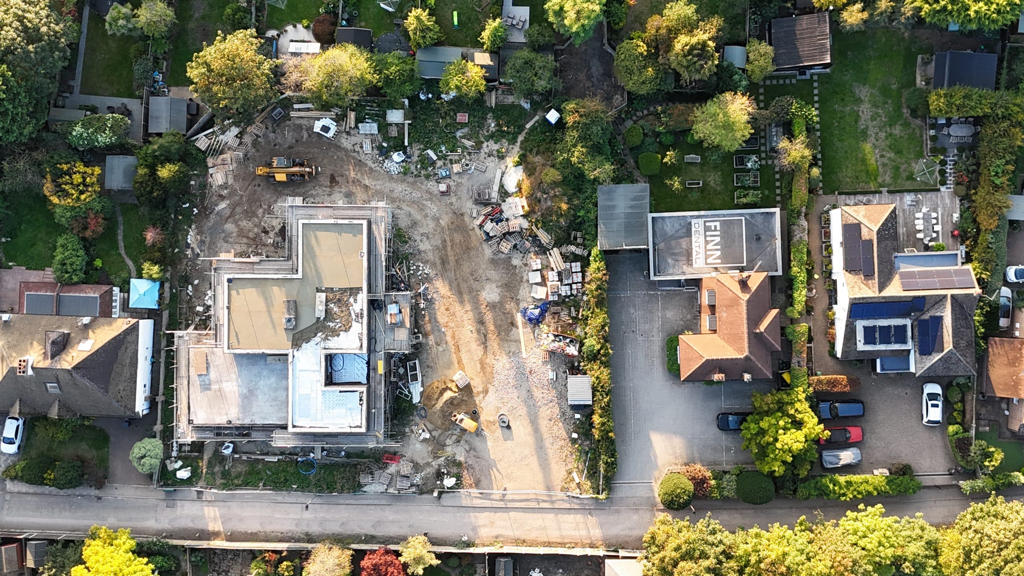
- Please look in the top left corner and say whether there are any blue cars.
No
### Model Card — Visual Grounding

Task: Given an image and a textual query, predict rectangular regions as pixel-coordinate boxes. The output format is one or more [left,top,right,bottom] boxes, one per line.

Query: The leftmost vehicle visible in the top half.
[254,154,330,185]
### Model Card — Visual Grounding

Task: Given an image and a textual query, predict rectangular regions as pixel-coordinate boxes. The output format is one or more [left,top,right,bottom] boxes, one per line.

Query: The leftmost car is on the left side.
[0,417,29,456]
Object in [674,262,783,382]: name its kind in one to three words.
house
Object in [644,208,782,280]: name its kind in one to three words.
building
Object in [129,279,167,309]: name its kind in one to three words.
gazebo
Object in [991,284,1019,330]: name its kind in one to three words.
car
